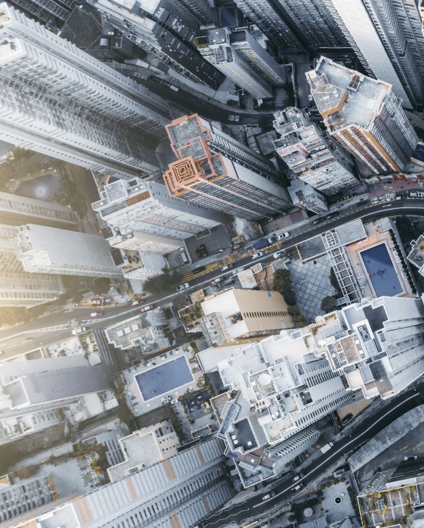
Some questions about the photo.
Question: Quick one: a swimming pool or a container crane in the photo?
swimming pool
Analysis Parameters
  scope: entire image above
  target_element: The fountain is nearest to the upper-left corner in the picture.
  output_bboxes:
[29,180,51,199]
